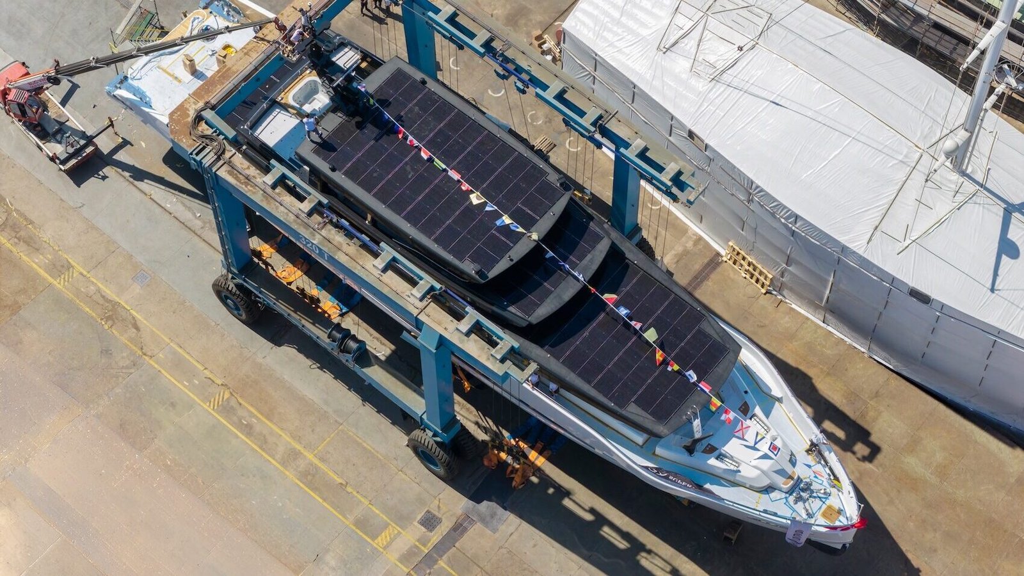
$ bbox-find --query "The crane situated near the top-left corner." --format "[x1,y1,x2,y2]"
[0,12,298,182]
